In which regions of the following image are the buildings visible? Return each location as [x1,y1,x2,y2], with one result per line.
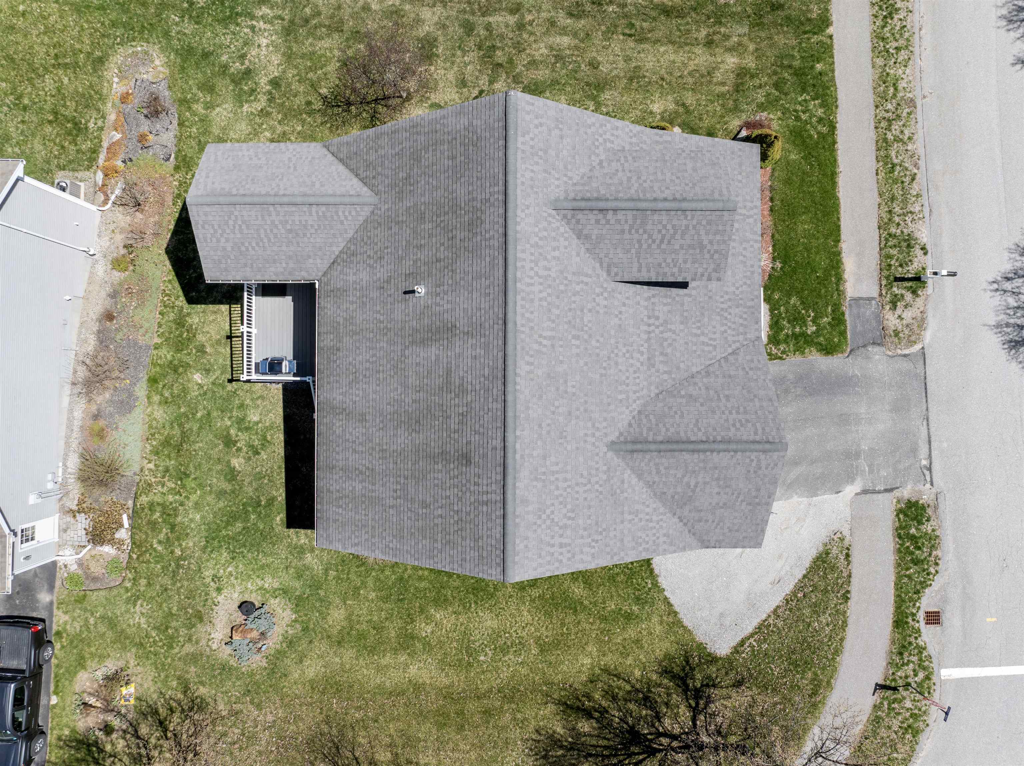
[185,90,789,584]
[0,156,125,598]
